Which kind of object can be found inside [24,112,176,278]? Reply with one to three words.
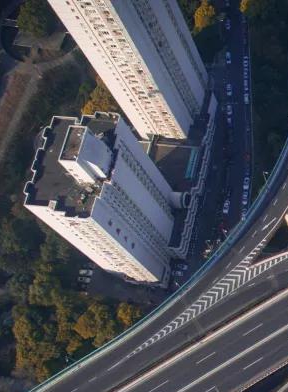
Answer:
building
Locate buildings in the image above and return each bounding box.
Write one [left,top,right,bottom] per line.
[43,0,213,143]
[24,112,176,278]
